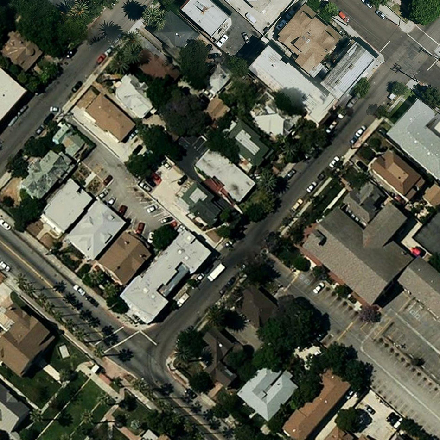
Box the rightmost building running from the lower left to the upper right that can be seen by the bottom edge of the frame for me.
[282,368,350,440]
